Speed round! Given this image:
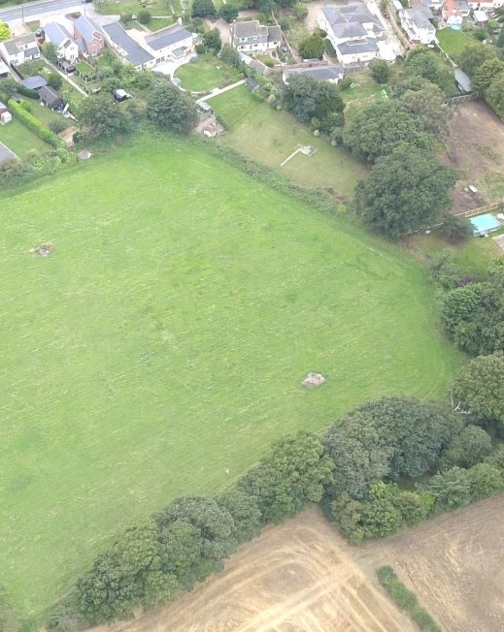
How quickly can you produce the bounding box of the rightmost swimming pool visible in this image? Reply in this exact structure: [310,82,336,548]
[469,213,501,231]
